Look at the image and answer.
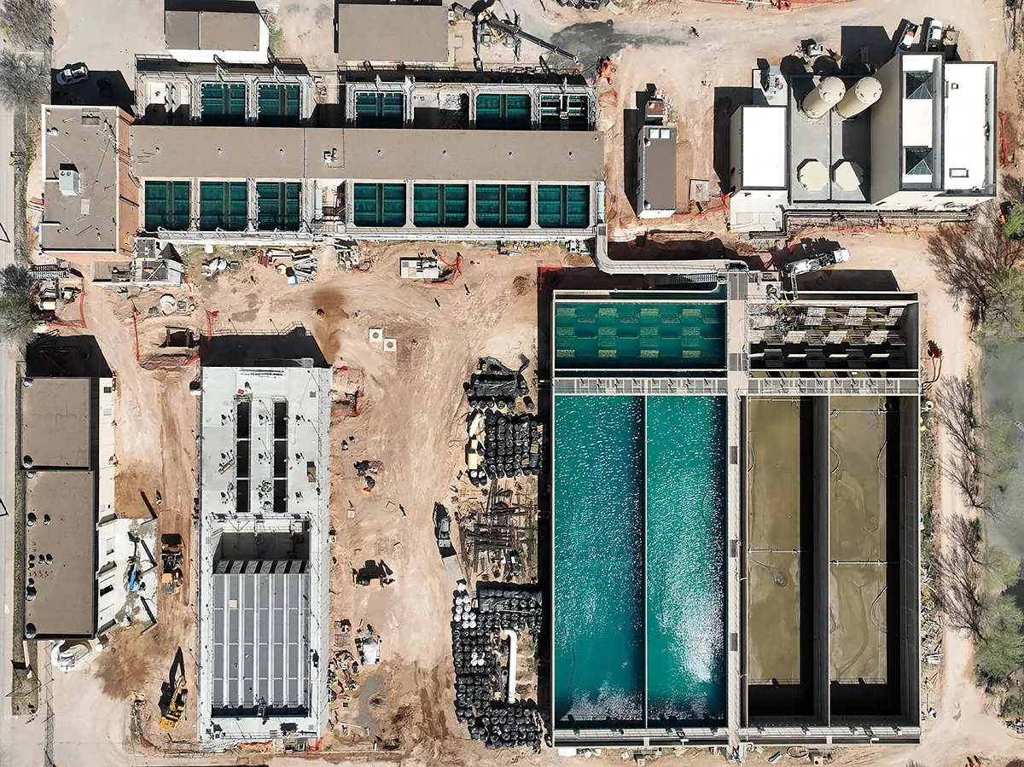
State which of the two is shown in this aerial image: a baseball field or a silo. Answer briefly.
silo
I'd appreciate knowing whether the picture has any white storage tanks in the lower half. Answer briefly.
No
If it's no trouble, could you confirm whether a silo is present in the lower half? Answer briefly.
No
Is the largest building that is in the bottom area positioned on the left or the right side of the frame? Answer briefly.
left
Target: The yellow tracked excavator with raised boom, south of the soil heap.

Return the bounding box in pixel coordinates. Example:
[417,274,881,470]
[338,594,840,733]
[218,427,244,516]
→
[154,684,184,732]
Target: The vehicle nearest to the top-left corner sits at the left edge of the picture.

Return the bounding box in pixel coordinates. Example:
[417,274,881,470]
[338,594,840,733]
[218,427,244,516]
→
[51,60,89,83]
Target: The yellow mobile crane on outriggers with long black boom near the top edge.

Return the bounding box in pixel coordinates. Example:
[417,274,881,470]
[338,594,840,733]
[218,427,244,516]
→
[476,0,576,66]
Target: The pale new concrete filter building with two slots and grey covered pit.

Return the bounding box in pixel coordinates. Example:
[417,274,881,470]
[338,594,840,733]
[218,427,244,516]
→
[189,359,331,743]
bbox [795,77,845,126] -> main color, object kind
white silo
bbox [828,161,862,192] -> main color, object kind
white storage tank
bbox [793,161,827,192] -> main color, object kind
white storage tank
